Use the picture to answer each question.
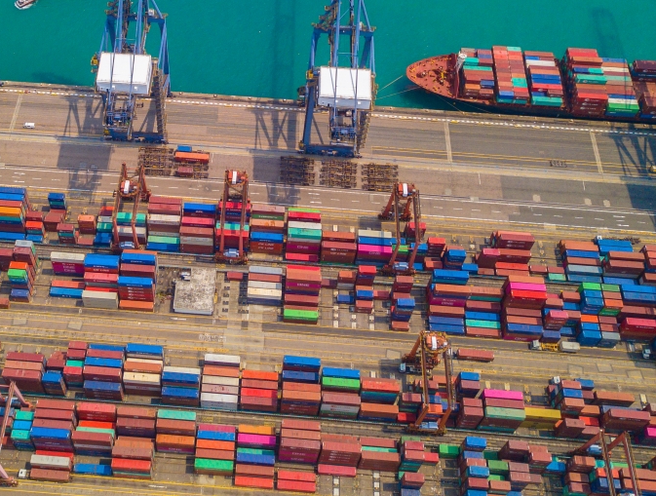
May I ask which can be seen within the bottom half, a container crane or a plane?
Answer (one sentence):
Visible within the bottom half is a container crane.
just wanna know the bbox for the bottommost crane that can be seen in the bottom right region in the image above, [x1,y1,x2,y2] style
[565,426,638,496]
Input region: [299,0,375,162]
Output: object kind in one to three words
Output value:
container crane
